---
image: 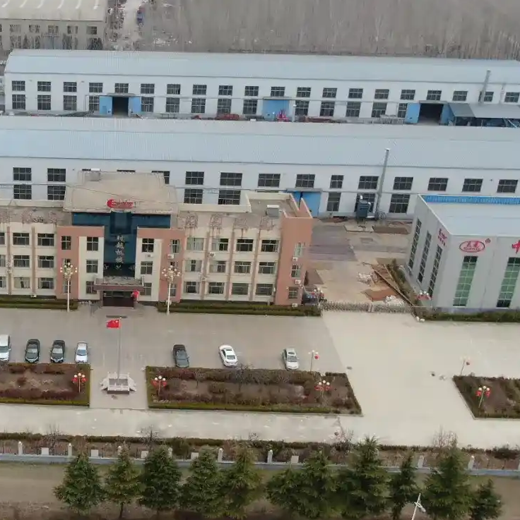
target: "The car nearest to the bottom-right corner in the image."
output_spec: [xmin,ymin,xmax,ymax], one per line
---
[279,346,298,368]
